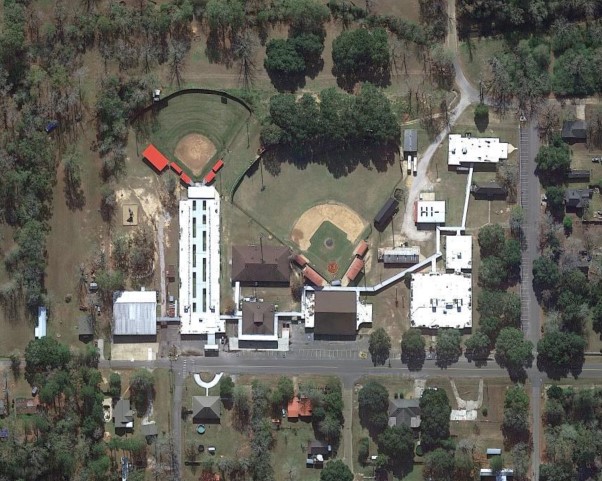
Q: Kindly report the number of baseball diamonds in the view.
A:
2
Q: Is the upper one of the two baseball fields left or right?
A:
left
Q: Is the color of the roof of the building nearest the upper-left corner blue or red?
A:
red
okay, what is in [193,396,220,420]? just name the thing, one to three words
house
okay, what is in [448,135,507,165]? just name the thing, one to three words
building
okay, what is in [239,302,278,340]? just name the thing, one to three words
building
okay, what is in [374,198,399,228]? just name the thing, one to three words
shed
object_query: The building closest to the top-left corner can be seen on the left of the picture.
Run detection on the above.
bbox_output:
[142,145,169,171]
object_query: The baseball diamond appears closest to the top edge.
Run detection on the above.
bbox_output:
[140,92,249,182]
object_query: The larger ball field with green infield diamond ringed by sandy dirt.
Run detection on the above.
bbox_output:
[233,101,403,282]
